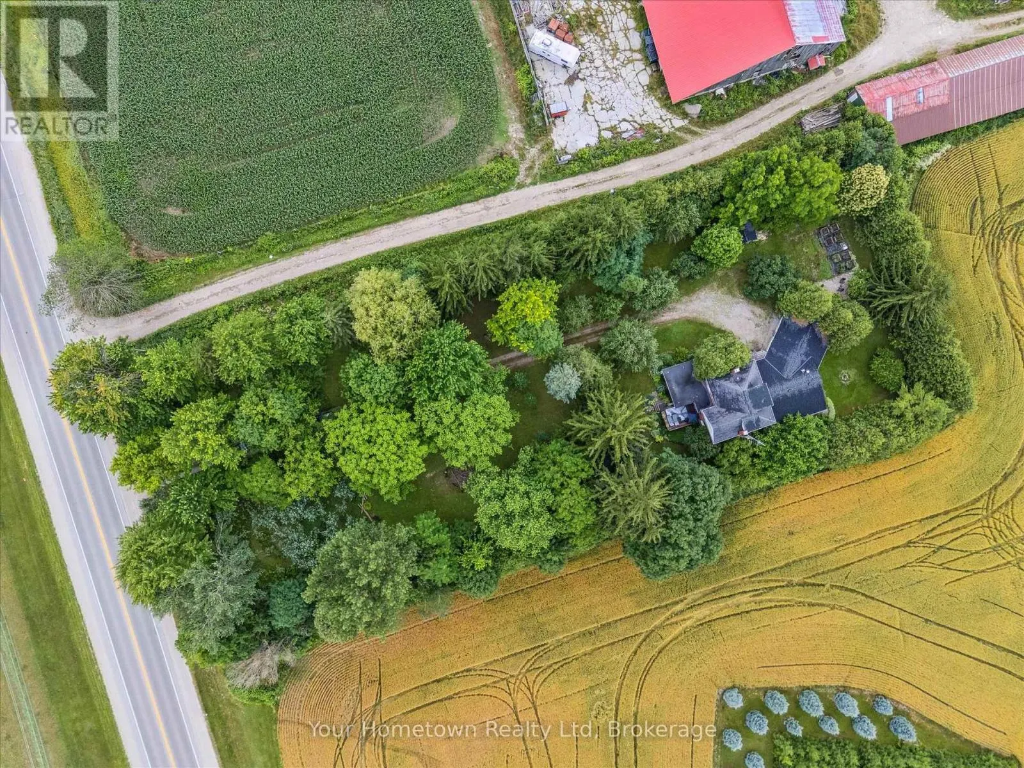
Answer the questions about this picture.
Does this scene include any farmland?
Yes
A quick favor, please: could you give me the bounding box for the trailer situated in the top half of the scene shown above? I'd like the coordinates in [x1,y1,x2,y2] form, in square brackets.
[527,31,579,69]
